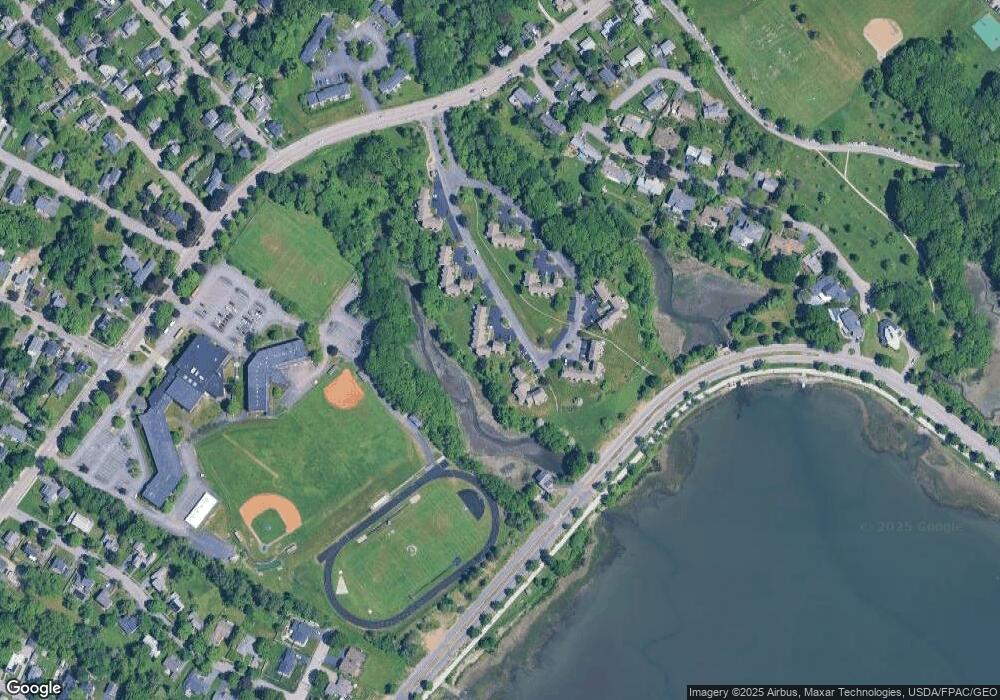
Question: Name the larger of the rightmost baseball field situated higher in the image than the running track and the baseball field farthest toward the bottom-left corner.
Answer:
the baseball field farthest toward the bottom-left corner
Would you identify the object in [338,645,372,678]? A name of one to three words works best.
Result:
house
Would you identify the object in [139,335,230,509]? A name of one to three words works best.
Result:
building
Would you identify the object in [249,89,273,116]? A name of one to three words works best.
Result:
house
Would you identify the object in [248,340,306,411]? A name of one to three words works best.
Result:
building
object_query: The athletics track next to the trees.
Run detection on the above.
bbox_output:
[316,461,500,631]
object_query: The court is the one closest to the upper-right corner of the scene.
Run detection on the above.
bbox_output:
[972,13,1000,52]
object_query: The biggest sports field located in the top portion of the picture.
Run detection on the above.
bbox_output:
[229,203,353,321]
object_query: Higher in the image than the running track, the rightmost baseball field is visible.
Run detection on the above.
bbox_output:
[324,369,364,409]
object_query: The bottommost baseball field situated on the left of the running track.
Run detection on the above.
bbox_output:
[240,494,302,561]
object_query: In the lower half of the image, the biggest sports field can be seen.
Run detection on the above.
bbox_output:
[332,477,492,622]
